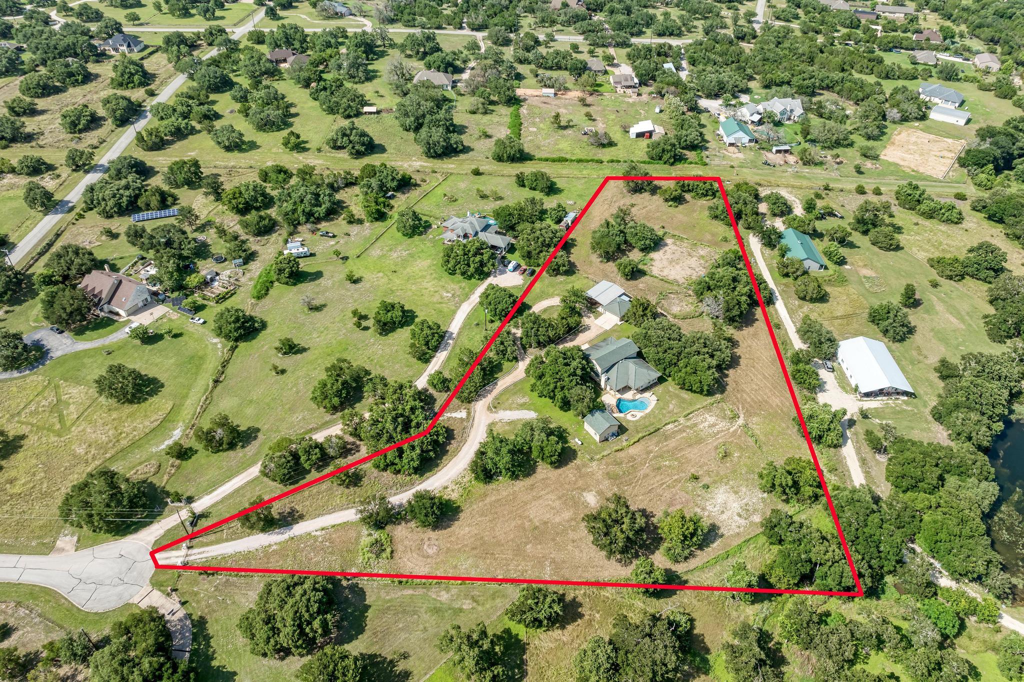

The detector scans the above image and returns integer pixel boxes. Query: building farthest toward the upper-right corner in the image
[974,54,1000,71]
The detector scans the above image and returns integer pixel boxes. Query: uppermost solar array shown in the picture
[131,206,177,220]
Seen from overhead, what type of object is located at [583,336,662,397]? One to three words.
house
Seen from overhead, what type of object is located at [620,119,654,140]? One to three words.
shed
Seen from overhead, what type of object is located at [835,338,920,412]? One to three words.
building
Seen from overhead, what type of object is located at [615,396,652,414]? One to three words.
swimming pool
